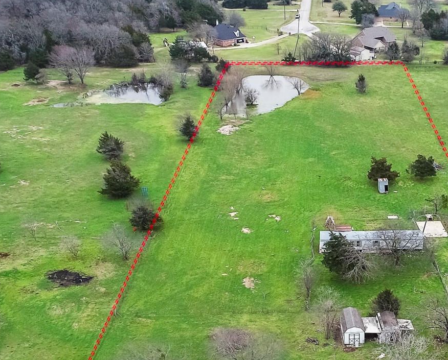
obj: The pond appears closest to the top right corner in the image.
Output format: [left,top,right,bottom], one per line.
[223,75,310,117]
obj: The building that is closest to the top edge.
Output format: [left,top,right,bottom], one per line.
[380,0,426,21]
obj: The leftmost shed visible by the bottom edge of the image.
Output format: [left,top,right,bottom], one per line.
[341,308,366,346]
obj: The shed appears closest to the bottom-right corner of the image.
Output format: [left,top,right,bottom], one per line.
[379,311,400,342]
